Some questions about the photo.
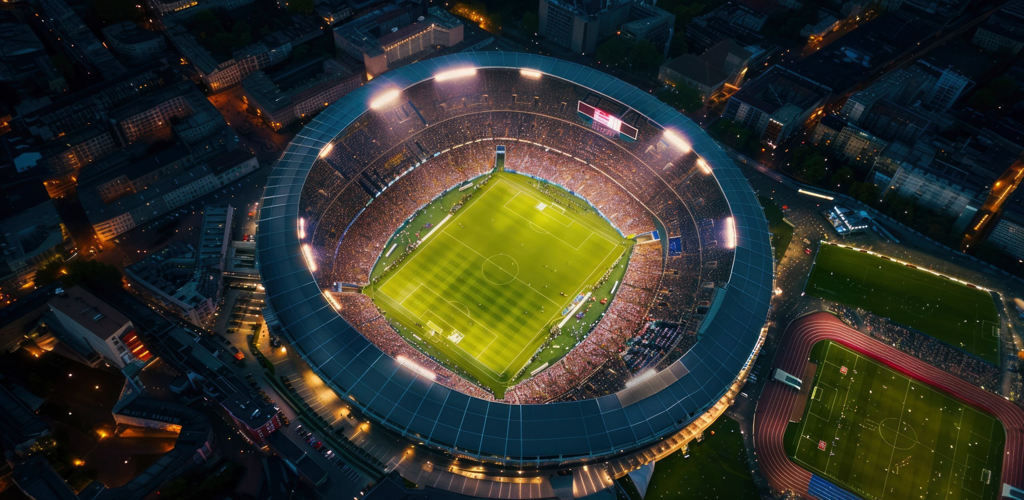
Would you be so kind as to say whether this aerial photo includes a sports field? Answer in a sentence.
Yes, the picture does show a sports field.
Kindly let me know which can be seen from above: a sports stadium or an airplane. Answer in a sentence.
This aerial view contains a sports stadium.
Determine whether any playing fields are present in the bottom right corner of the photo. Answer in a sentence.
Yes, in the bottom right corner of the photo there is a playing field.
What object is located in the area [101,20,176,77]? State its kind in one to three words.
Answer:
building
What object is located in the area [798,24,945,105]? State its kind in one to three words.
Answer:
building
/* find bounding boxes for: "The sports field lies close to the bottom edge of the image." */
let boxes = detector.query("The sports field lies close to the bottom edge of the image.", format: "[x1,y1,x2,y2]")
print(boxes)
[794,341,996,500]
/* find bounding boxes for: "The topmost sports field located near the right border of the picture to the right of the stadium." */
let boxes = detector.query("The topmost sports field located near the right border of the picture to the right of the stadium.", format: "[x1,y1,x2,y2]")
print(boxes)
[805,244,1000,363]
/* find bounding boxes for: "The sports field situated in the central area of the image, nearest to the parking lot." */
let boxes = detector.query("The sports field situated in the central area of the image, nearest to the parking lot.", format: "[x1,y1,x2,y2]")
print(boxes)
[370,174,632,384]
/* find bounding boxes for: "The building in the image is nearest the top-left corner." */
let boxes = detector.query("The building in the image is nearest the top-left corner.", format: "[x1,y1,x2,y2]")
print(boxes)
[0,22,57,69]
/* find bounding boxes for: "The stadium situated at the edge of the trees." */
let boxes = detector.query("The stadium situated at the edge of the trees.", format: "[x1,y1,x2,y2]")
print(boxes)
[250,48,777,484]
